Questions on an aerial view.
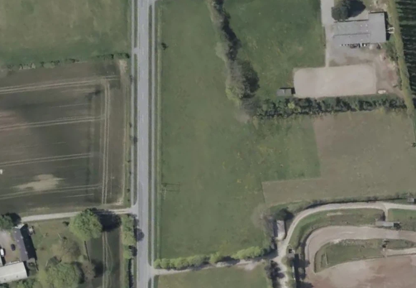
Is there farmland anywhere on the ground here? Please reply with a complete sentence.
Yes, there is farmland in the image.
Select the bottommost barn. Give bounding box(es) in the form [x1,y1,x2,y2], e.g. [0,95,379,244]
[0,262,27,283]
